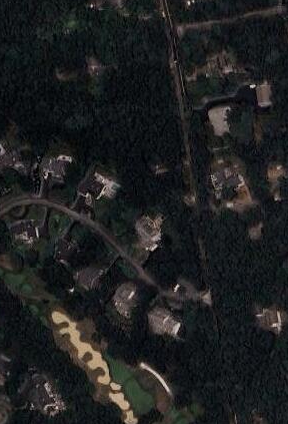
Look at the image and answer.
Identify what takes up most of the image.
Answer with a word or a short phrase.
trees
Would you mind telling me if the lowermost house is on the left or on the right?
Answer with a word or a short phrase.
left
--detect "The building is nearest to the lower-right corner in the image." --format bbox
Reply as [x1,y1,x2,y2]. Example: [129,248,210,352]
[257,307,285,327]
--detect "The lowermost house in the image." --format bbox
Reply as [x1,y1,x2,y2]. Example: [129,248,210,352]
[24,370,62,417]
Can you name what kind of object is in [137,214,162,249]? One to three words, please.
house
